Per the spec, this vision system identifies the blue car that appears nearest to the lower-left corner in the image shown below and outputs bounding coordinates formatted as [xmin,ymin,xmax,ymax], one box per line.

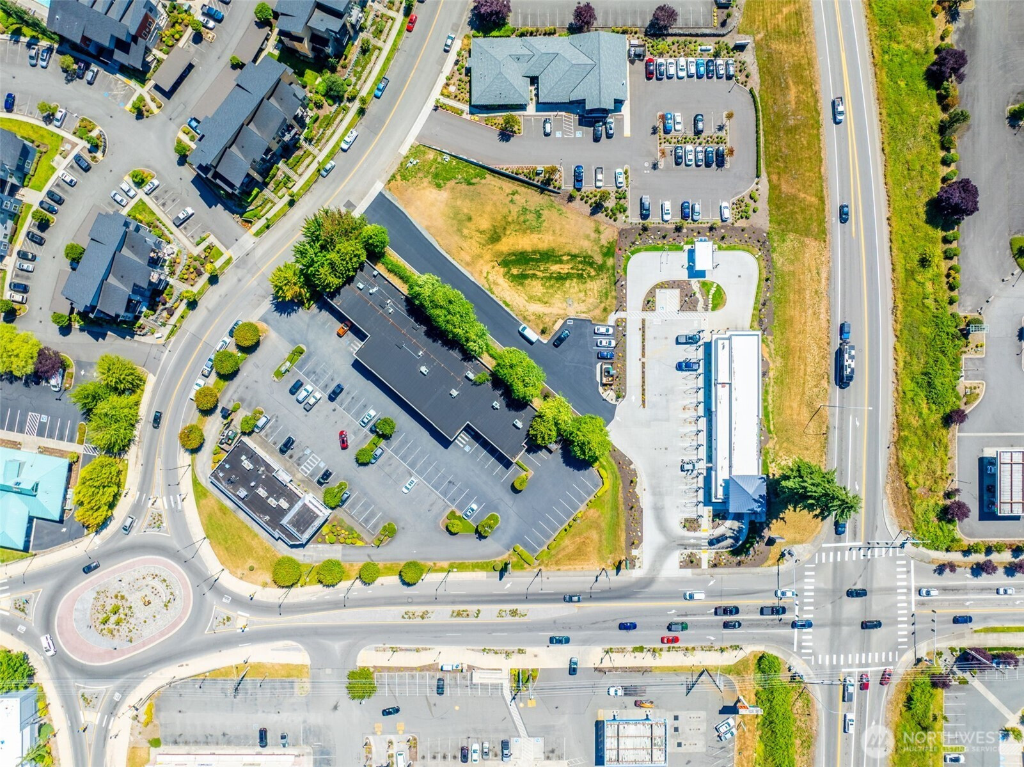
[80,560,102,574]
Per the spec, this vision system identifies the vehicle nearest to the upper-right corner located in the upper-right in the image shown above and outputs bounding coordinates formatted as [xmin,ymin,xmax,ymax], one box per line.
[833,98,845,123]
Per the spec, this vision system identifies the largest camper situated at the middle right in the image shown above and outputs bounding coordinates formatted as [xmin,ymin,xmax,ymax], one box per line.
[836,341,853,388]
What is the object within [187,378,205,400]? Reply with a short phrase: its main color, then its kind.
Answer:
white vehicle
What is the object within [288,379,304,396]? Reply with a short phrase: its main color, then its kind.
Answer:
blue car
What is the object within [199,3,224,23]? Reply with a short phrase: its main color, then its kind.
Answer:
blue vehicle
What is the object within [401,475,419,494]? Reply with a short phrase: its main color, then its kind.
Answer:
white car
